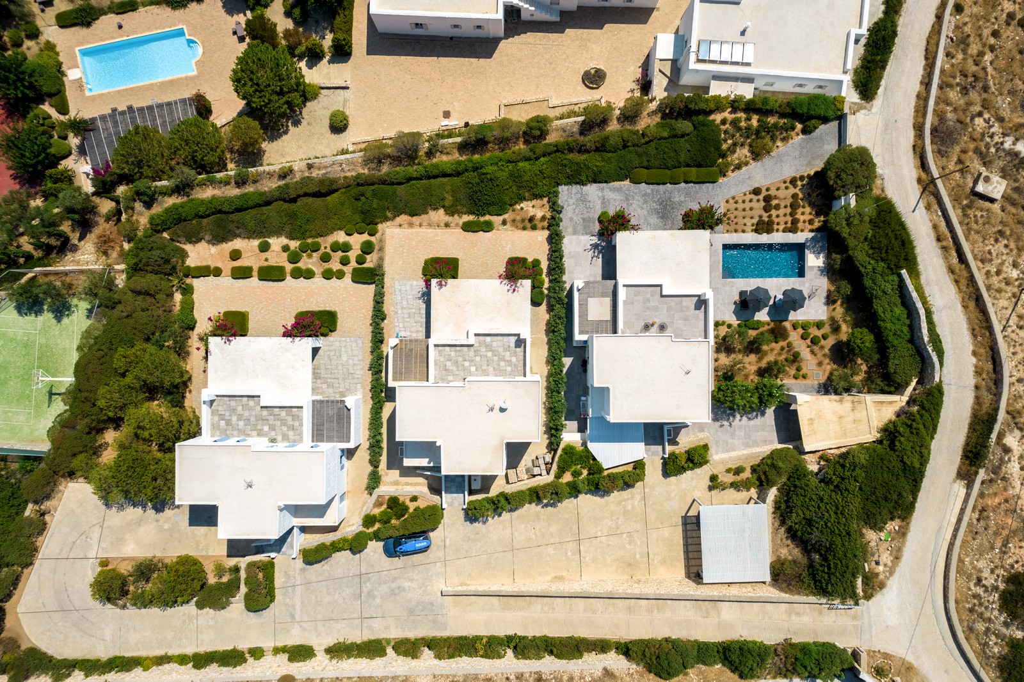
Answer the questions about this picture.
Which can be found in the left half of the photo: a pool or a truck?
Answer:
pool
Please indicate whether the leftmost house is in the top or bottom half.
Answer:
bottom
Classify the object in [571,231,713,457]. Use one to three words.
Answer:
house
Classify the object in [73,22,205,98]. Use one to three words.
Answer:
swimming pool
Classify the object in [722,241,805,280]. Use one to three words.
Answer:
swimming pool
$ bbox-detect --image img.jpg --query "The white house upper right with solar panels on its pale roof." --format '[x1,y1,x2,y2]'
[647,0,868,108]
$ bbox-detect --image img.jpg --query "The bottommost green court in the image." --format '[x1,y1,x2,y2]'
[0,267,123,442]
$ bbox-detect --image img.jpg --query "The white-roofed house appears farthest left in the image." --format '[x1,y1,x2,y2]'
[175,337,363,557]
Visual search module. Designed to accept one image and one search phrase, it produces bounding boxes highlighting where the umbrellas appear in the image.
[747,287,771,312]
[782,288,806,312]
